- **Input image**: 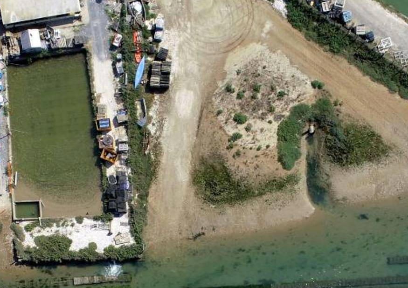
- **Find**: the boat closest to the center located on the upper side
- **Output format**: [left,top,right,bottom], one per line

[135,98,148,127]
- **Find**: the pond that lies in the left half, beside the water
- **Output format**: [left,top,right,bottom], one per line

[6,50,105,220]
